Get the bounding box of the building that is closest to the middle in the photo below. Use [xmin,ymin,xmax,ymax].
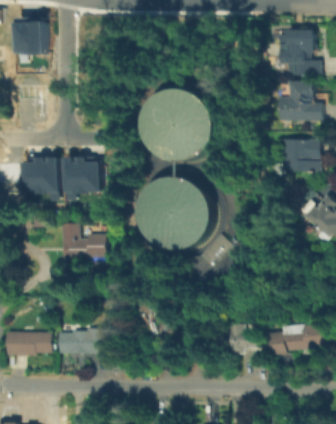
[202,234,234,267]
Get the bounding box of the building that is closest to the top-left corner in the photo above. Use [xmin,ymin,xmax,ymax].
[12,18,50,52]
